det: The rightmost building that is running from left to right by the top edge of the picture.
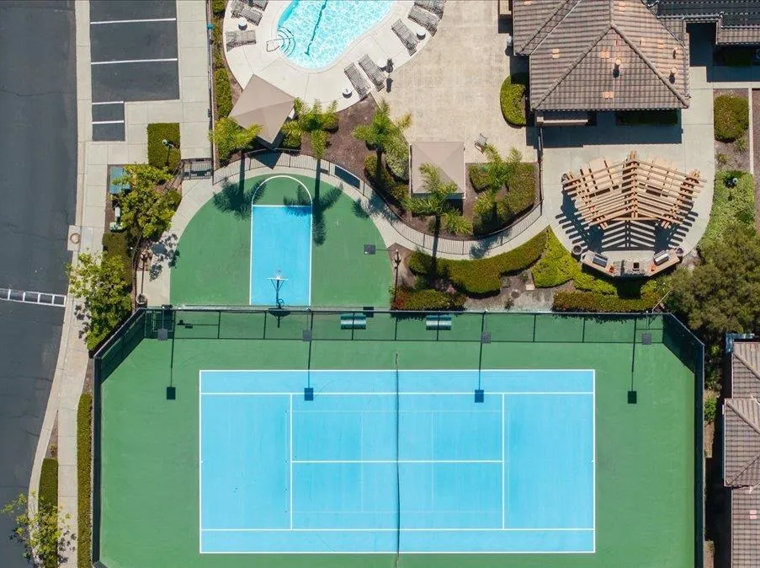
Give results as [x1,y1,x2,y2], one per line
[499,0,760,128]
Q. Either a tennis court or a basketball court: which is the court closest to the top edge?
basketball court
